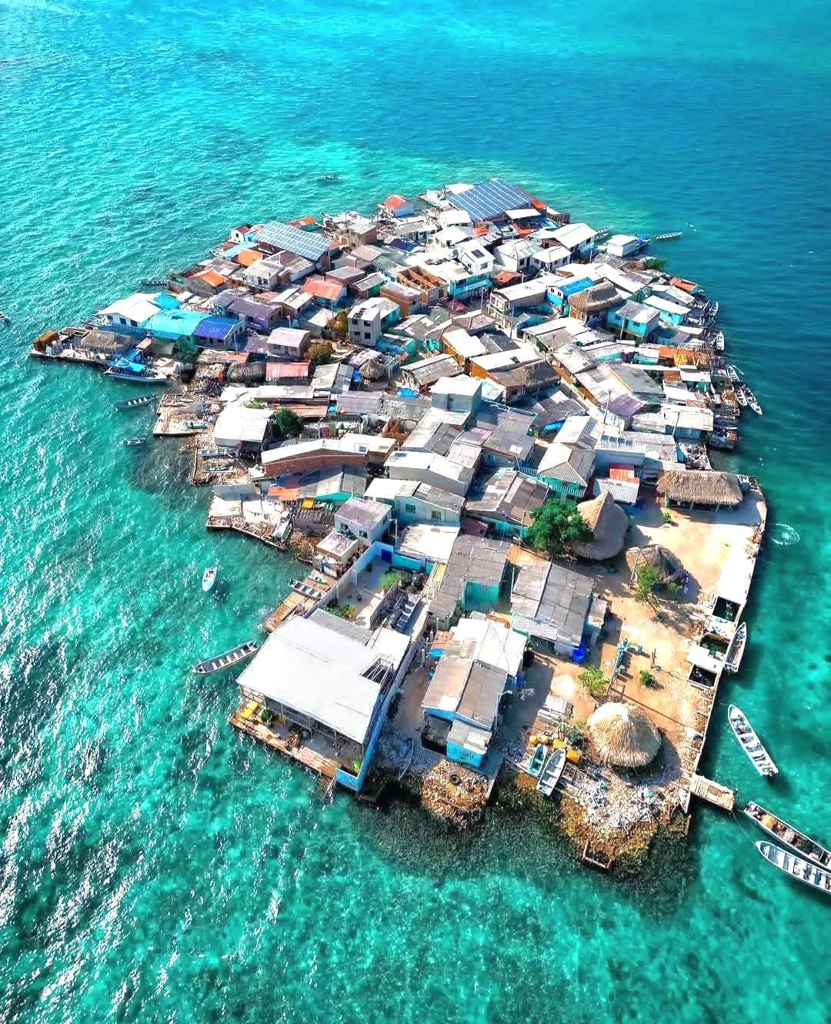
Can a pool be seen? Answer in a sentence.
No, there appears to be no pool in this shot.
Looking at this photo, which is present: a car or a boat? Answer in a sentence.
Visible in the photo is a boat.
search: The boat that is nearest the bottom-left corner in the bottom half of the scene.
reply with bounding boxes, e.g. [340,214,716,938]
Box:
[193,638,260,674]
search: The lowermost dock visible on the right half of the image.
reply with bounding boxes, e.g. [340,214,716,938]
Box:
[694,773,735,816]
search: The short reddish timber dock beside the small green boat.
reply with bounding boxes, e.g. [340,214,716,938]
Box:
[293,573,330,614]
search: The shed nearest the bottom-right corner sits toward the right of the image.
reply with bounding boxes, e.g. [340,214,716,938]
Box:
[588,706,661,771]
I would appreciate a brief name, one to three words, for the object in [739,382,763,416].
boat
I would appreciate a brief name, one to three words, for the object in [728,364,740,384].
boat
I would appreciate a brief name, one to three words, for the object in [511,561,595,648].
house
